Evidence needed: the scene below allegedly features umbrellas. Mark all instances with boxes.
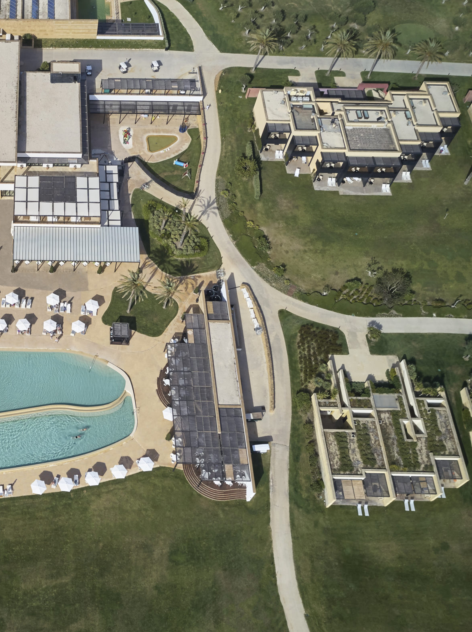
[110,464,128,479]
[162,406,177,422]
[43,320,57,333]
[0,319,7,332]
[15,318,30,331]
[30,480,47,496]
[4,292,18,306]
[85,471,102,487]
[138,457,155,473]
[58,478,75,493]
[71,320,85,334]
[85,299,99,313]
[46,293,59,307]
